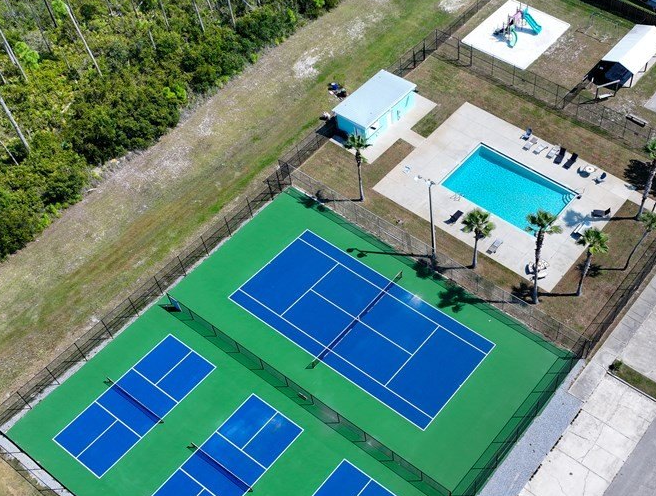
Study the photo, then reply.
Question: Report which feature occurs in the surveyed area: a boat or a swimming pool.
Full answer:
Visible in the photo is a swimming pool.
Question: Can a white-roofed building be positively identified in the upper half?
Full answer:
Yes, looking in the upper half, one can make out a white-roofed building.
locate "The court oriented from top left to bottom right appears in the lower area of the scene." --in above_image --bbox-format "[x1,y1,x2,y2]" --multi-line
[161,186,580,496]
